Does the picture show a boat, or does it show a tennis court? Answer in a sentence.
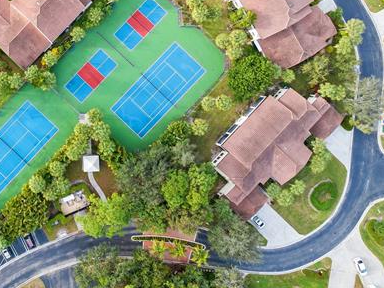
There is a tennis court in the scene.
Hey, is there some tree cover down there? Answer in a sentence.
Yes, tree cover shows up in the scene.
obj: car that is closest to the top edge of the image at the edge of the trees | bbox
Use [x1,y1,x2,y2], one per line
[252,216,267,230]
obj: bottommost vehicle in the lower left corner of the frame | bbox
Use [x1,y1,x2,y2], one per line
[2,247,15,262]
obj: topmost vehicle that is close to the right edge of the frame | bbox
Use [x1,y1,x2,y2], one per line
[355,258,370,278]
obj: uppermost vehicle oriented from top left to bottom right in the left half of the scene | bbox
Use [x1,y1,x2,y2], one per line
[22,232,36,251]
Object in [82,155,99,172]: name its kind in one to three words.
gazebo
